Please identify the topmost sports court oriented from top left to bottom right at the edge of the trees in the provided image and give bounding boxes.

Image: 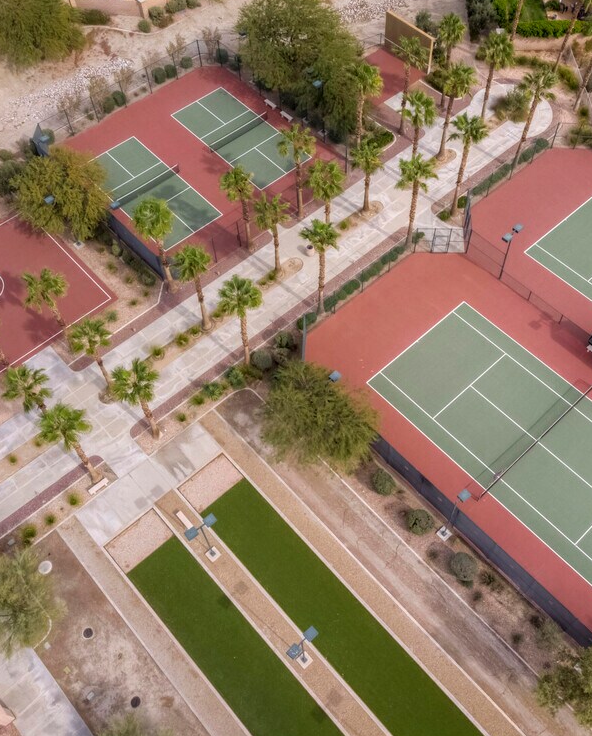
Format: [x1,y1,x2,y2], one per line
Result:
[171,87,311,189]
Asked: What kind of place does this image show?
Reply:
sports ground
